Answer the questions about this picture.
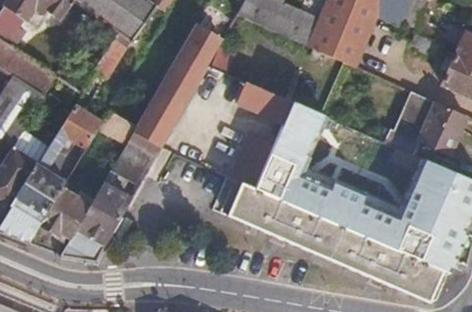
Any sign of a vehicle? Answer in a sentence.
Yes, the image includes a vehicle.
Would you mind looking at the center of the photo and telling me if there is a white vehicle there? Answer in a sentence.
Yes, a white vehicle is visible at the center of the photo.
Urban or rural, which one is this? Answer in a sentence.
The area shown here is urban.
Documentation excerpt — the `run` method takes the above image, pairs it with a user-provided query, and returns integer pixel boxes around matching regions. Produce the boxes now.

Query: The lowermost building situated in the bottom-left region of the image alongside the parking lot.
[63,233,102,258]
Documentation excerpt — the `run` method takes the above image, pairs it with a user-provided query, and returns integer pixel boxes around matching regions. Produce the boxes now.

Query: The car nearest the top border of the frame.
[380,36,394,56]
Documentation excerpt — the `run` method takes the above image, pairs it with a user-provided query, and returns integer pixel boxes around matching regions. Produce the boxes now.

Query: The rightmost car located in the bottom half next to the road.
[294,260,307,284]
